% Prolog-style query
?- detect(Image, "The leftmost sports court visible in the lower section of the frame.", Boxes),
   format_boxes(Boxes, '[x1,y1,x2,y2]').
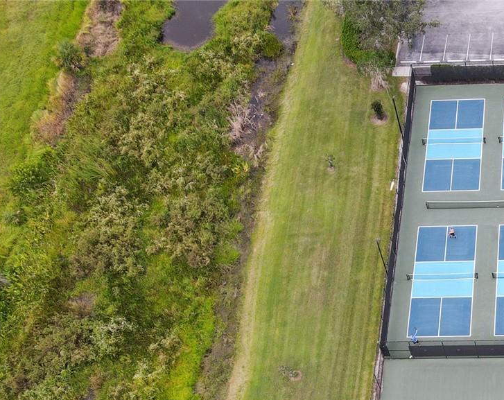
[406,224,478,337]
